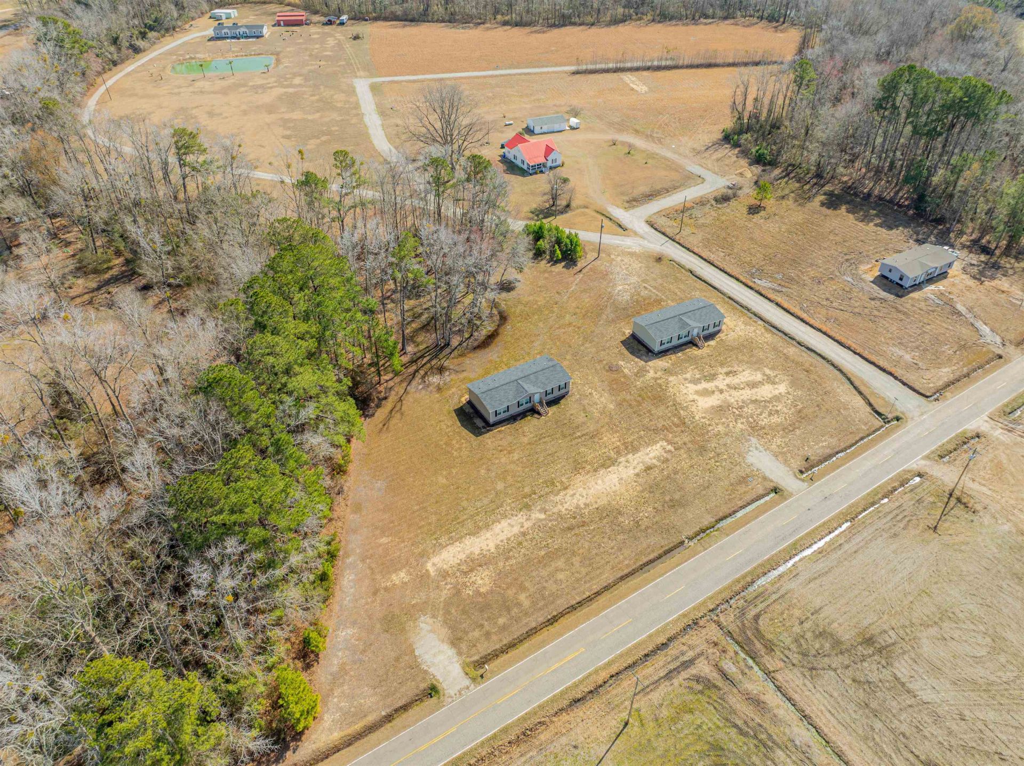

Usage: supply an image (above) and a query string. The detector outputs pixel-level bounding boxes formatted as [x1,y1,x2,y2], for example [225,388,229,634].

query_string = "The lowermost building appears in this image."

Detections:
[467,357,572,424]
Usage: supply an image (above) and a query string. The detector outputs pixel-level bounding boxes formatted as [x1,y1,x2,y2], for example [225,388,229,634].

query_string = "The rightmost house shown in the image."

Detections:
[878,244,958,287]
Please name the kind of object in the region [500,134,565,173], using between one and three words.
house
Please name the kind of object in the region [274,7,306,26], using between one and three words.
barn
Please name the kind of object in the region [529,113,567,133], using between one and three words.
shed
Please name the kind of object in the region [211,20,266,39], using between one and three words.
house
